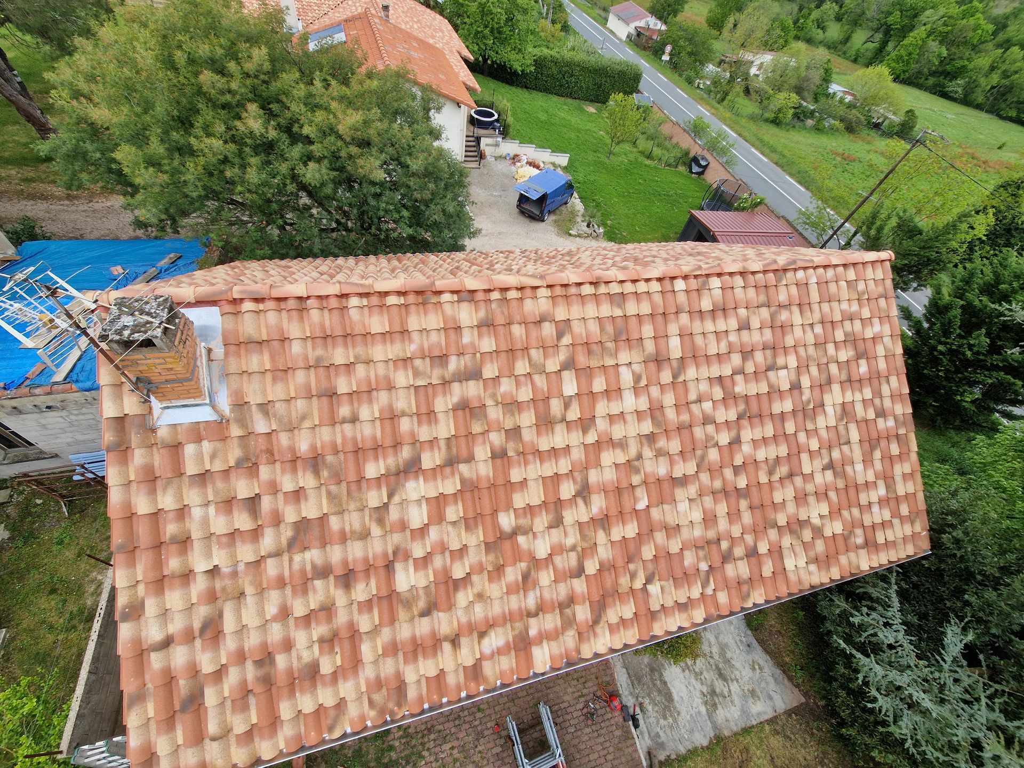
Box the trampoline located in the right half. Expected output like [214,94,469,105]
[704,169,758,212]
